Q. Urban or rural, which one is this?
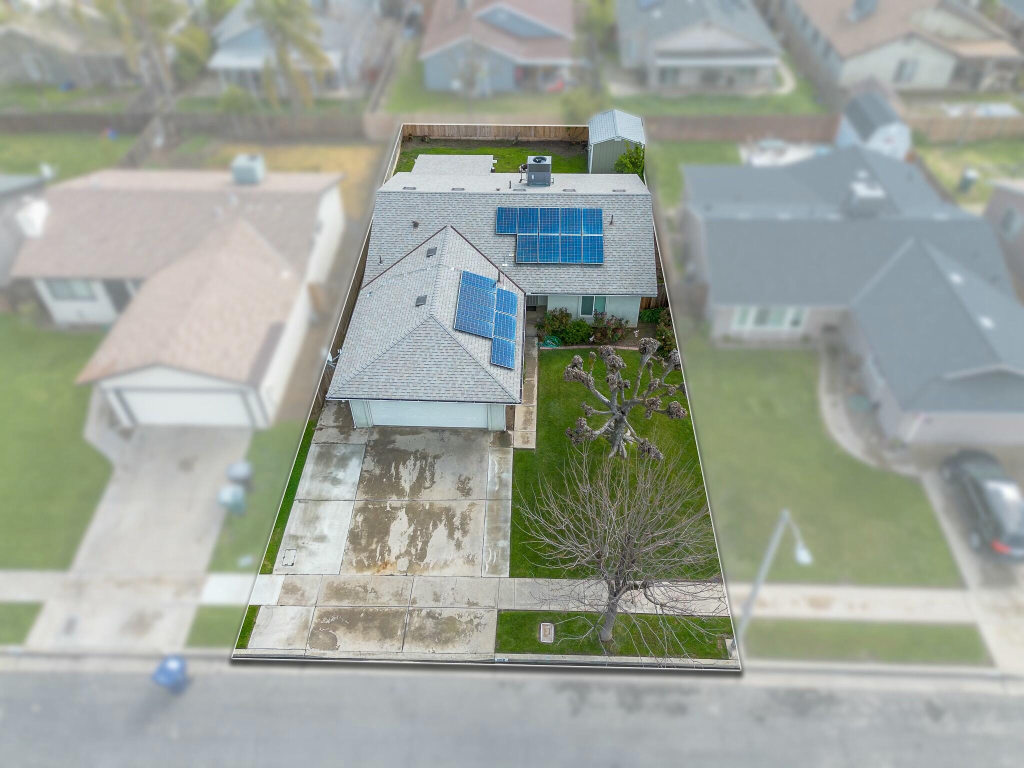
urban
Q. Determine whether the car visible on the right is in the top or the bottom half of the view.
bottom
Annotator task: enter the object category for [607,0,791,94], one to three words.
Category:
house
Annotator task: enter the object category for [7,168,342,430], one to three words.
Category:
house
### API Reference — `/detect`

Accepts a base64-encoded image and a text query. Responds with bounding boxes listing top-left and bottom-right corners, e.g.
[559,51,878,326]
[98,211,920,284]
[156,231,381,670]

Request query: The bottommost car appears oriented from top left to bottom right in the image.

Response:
[935,451,1024,552]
